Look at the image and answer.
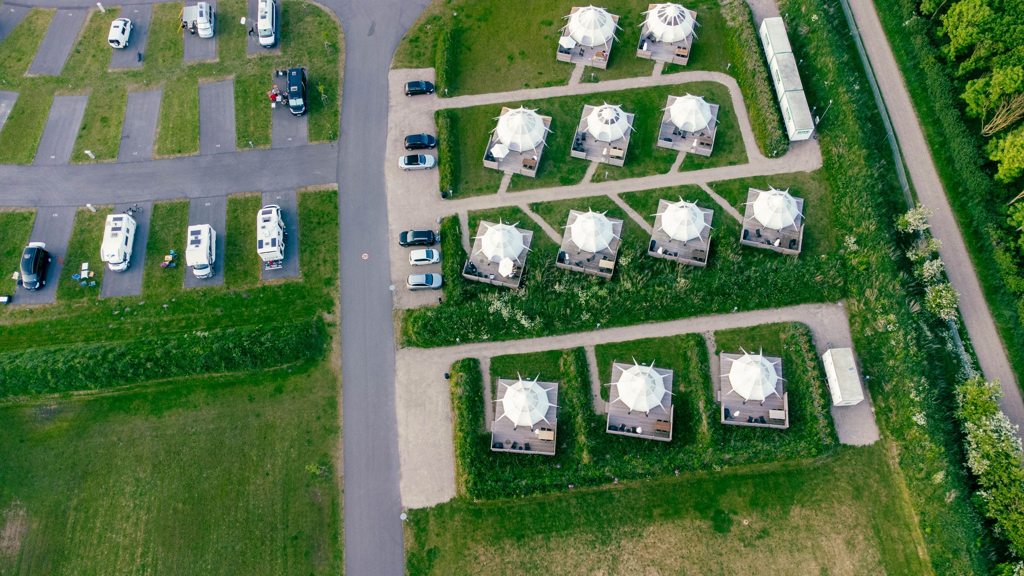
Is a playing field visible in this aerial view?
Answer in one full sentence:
Yes, a playing field is visible in the scene.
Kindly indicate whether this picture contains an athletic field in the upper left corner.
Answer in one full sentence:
Yes, you'll find an athletic field in the upper left corner.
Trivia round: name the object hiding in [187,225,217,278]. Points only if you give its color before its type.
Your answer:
white camper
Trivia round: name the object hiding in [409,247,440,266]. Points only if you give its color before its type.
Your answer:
white car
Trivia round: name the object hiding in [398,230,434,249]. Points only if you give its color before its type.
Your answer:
black car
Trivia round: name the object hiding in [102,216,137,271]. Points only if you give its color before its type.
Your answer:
white camper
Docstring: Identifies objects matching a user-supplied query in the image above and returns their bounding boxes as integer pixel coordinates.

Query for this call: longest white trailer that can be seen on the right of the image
[823,343,865,406]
